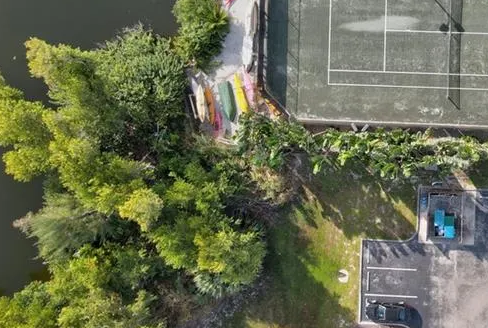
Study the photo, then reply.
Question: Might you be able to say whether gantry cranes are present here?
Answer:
No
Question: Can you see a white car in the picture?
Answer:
No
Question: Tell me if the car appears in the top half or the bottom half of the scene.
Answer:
bottom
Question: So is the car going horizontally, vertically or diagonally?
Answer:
horizontally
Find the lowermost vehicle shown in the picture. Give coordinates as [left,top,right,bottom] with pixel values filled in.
[365,300,414,324]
